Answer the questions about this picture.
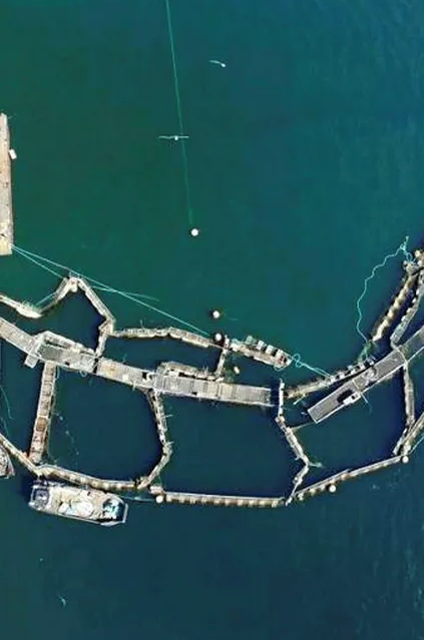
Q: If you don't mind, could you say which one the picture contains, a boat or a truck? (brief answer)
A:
boat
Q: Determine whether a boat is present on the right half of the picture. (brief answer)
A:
No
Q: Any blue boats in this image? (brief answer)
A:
No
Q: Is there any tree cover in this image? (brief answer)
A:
No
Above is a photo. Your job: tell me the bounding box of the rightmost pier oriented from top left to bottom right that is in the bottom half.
[276,416,310,465]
